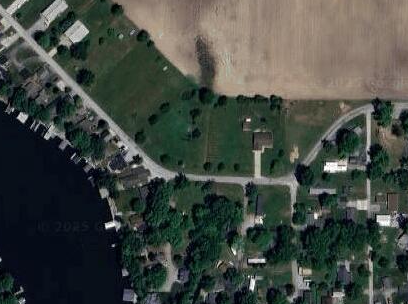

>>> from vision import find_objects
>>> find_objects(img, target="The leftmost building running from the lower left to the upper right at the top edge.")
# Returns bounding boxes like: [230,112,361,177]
[42,0,68,25]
